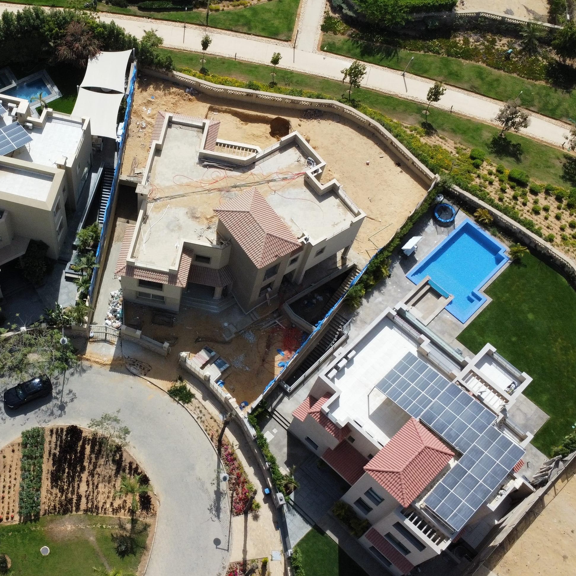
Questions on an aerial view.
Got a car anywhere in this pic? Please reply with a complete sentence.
Yes, there's a car here.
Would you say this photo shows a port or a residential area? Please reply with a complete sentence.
The picture captures a residential area.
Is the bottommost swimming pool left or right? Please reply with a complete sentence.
The bottommost swimming pool appears in the right half of the scene.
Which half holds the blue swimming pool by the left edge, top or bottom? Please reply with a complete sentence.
It is in the top half that the blue swimming pool by the left edge appears.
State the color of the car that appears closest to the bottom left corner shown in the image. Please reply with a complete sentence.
From above, the car that appears closest to the bottom left corner appears black.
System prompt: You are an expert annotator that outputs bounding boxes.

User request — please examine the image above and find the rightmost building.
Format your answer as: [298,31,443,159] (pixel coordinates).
[285,305,533,576]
